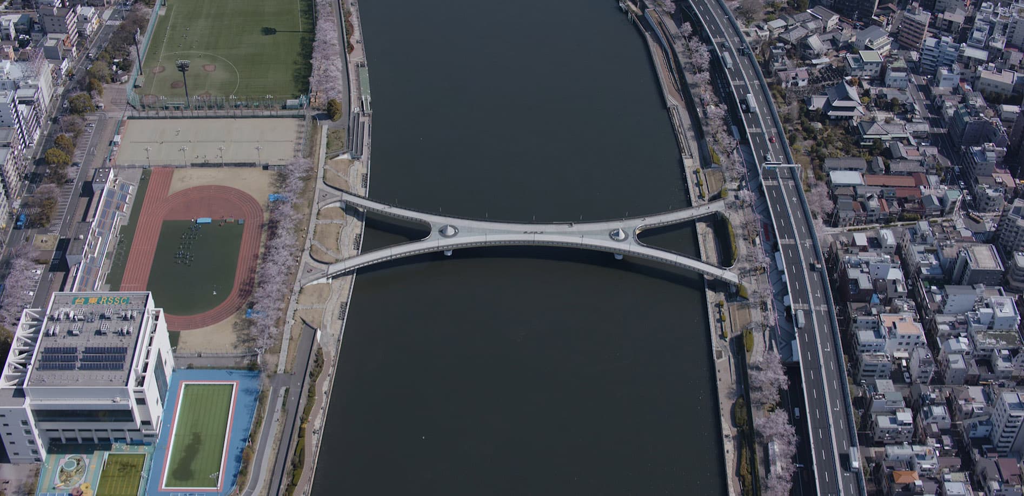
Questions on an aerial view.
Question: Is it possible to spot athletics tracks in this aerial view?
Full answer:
Yes, an athletics track can be made out from above.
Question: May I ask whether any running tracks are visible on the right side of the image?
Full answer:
No, there's no running track to be seen on the right side of the image.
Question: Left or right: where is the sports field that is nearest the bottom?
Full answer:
The sports field that is nearest the bottom is on the left side of the image.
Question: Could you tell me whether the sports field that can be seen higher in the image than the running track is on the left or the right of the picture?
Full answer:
The sports field that can be seen higher in the image than the running track sits on the left side.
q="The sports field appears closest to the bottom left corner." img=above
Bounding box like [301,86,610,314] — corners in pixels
[165,384,234,487]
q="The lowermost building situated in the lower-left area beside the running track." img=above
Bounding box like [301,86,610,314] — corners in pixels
[0,293,176,462]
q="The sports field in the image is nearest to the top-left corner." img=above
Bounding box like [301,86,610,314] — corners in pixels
[130,0,315,104]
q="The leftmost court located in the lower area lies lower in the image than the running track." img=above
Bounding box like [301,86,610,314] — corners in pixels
[95,452,148,496]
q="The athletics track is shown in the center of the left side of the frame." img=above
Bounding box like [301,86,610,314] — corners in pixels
[119,168,264,331]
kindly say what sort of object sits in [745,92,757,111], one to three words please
vehicle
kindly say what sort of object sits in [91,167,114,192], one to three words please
building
